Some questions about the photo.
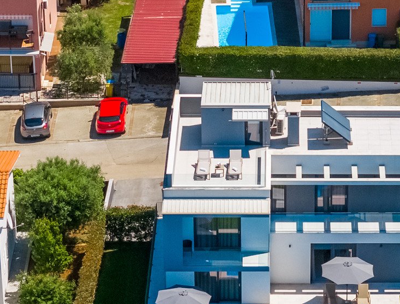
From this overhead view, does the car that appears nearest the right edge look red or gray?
red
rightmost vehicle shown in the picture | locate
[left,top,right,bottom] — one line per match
[94,96,129,132]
